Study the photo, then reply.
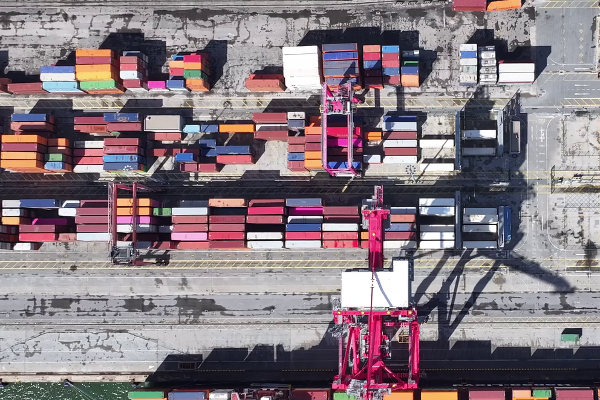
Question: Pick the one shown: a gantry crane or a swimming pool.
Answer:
gantry crane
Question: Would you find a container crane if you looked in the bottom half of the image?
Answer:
Yes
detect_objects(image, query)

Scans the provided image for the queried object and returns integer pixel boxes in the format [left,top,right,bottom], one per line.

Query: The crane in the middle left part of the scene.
[109,184,164,266]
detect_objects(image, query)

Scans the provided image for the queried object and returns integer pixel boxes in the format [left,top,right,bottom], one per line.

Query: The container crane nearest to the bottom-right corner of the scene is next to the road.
[331,182,425,400]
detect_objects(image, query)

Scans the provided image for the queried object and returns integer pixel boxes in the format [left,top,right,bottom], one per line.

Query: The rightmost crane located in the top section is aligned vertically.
[322,91,363,177]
